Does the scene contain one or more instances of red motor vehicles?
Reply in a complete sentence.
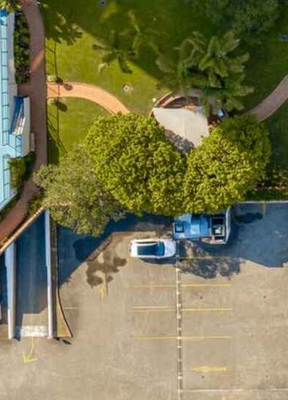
No, there is no red motor vehicle in the image.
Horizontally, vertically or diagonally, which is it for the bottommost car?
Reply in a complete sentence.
The bottommost car has been laid out horizontally relative to the frame.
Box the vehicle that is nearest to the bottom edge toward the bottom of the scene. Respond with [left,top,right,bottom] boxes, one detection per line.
[131,238,176,260]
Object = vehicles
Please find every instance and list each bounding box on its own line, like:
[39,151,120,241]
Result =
[131,238,176,260]
[175,212,229,242]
